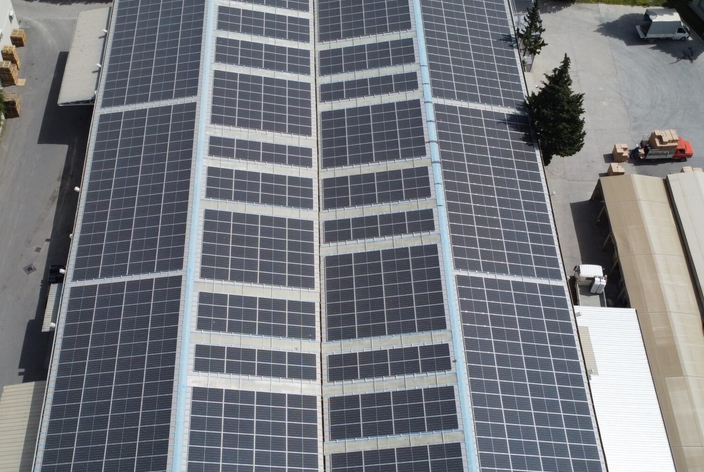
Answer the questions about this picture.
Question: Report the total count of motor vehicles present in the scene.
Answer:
3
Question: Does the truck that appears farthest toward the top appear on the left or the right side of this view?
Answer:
right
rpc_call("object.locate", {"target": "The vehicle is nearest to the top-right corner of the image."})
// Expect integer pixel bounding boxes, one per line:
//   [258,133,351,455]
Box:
[634,7,692,40]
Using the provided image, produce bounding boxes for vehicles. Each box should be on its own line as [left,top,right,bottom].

[634,7,692,40]
[632,134,696,164]
[571,267,608,308]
